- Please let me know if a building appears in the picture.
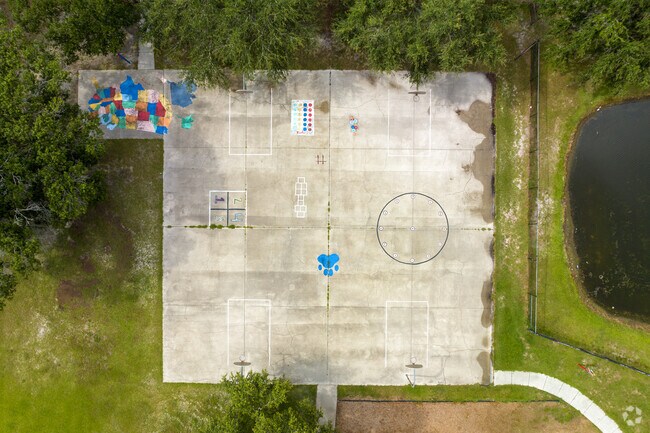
No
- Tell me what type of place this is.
sports ground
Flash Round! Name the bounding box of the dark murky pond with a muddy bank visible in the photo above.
[565,102,650,325]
